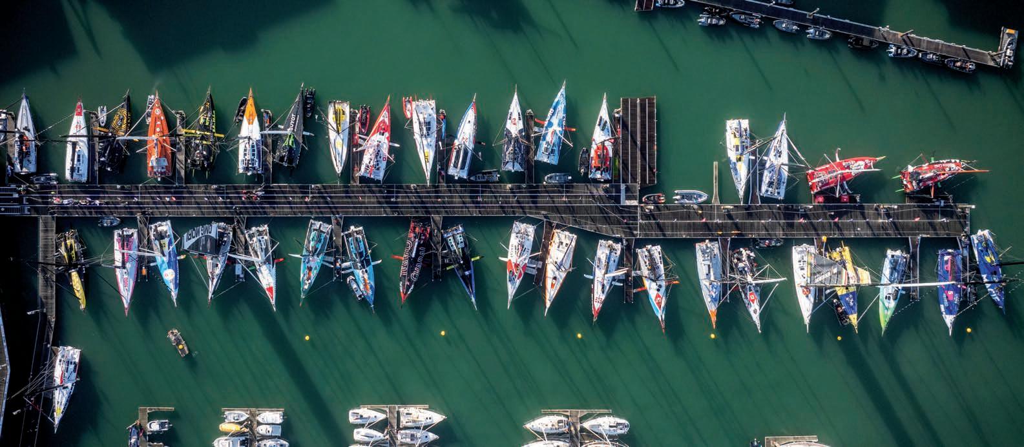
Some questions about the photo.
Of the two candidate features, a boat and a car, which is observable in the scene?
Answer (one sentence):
Visible in the photo is a boat.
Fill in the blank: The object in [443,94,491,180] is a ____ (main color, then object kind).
white boat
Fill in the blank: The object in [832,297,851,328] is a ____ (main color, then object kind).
black boat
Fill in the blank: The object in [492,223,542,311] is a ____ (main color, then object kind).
white boat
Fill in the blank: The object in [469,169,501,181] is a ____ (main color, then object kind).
black boat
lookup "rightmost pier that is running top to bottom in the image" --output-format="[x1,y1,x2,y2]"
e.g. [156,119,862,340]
[1000,27,1018,67]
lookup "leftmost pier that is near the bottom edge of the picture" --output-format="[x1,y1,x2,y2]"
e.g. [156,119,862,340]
[137,408,174,447]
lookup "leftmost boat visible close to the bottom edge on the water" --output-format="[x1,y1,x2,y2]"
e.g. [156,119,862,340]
[1,346,81,435]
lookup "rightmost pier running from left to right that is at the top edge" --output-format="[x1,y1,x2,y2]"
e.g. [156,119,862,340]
[696,0,1000,66]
